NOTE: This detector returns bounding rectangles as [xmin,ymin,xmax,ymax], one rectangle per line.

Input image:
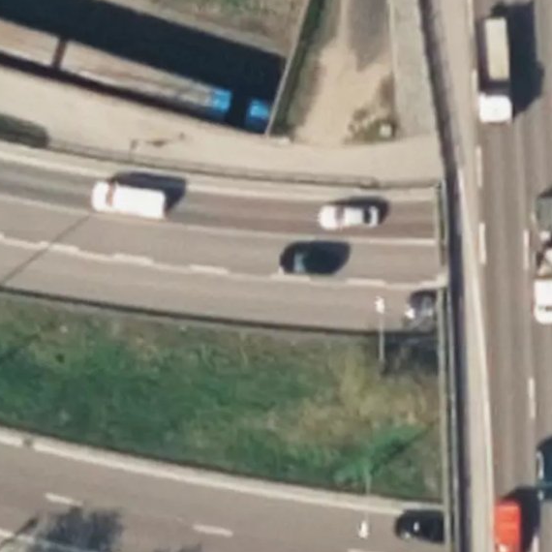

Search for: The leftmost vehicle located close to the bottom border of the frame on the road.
[396,512,446,543]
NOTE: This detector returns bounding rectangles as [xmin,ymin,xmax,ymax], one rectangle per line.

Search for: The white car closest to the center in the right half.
[318,202,378,230]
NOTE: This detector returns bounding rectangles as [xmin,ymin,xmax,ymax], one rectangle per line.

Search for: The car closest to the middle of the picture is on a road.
[279,243,339,272]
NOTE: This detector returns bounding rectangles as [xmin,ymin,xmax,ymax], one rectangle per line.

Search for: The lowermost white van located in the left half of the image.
[91,181,167,216]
